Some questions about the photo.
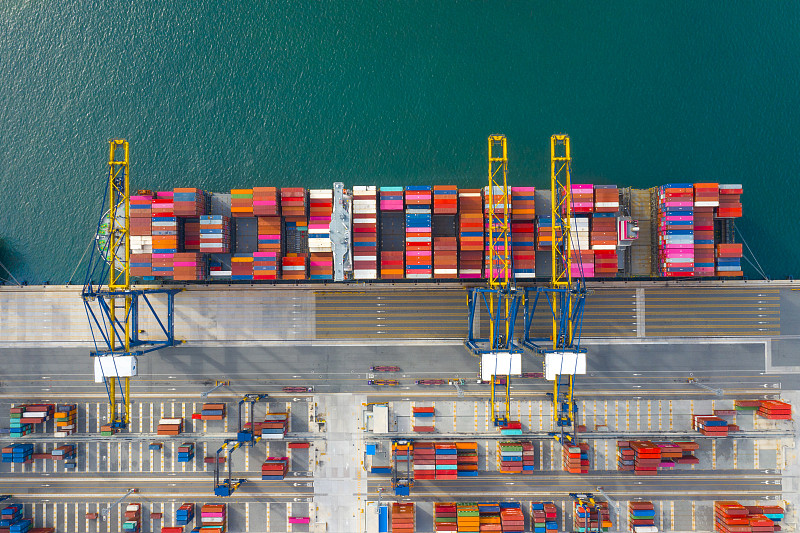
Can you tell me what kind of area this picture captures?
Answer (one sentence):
The area seen from above is a port.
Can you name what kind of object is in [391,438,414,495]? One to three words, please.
container crane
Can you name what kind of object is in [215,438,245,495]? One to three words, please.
container crane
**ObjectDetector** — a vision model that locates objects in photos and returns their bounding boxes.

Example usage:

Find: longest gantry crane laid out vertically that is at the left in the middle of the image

[80,136,184,429]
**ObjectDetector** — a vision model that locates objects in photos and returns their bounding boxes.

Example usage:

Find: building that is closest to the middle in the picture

[366,404,388,434]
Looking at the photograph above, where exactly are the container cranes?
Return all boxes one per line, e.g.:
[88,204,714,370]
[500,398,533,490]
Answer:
[572,492,603,533]
[391,438,414,495]
[80,136,184,429]
[215,438,245,495]
[460,134,523,427]
[549,393,580,447]
[514,134,590,427]
[238,395,267,449]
